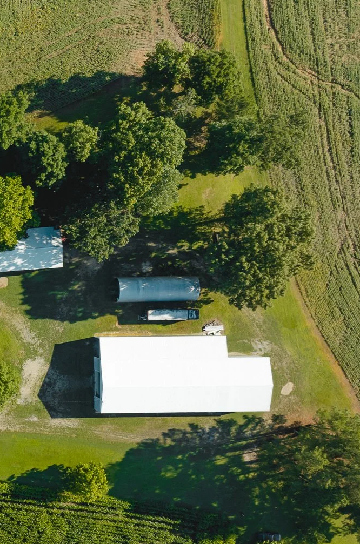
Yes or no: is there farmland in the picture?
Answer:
Yes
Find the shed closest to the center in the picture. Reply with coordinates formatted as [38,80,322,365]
[115,276,205,302]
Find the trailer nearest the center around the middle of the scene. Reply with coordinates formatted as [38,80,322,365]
[136,308,199,321]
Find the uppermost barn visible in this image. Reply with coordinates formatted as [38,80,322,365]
[0,227,64,271]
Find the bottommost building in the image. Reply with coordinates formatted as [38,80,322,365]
[92,336,277,413]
